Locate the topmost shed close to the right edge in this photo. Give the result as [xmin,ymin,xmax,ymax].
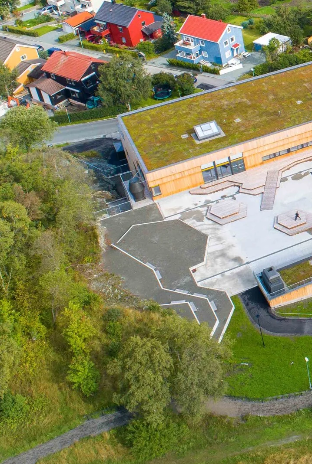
[255,25,300,55]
